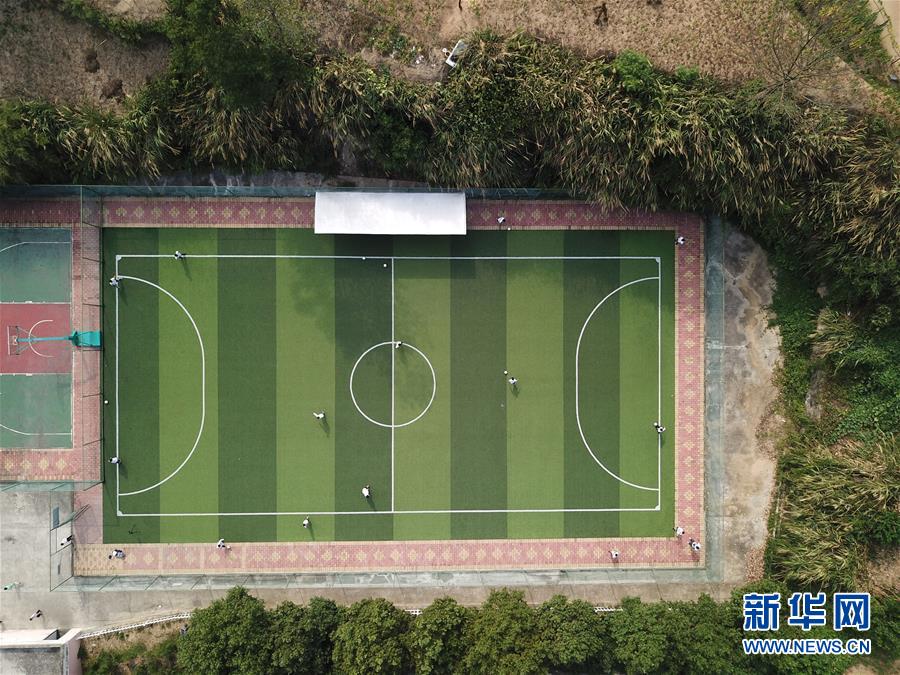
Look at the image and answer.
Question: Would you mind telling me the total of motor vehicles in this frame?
0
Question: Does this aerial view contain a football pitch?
Yes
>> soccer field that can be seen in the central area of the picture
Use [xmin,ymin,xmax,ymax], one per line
[102,227,676,545]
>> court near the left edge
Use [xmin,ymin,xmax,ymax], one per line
[0,227,72,450]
